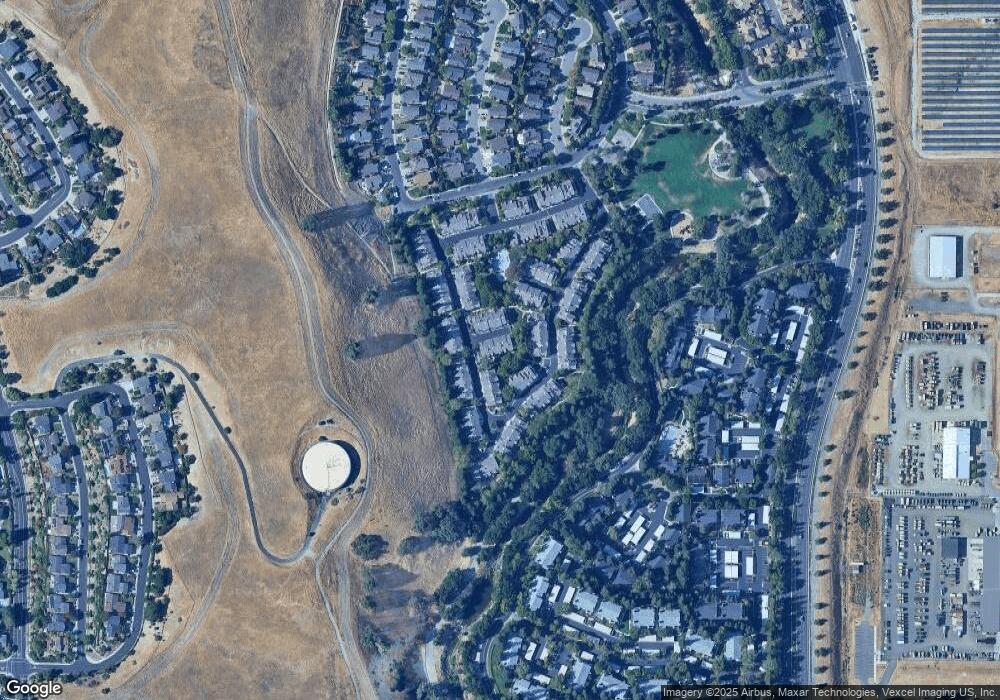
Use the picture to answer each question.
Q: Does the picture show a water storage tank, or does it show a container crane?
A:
water storage tank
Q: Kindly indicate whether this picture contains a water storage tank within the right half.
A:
No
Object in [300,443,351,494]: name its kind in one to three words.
water tank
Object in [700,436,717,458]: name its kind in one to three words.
building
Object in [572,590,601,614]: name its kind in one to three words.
building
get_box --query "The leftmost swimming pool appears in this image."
[495,250,514,273]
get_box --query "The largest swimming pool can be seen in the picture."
[660,425,694,459]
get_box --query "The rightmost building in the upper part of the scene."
[930,236,957,277]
